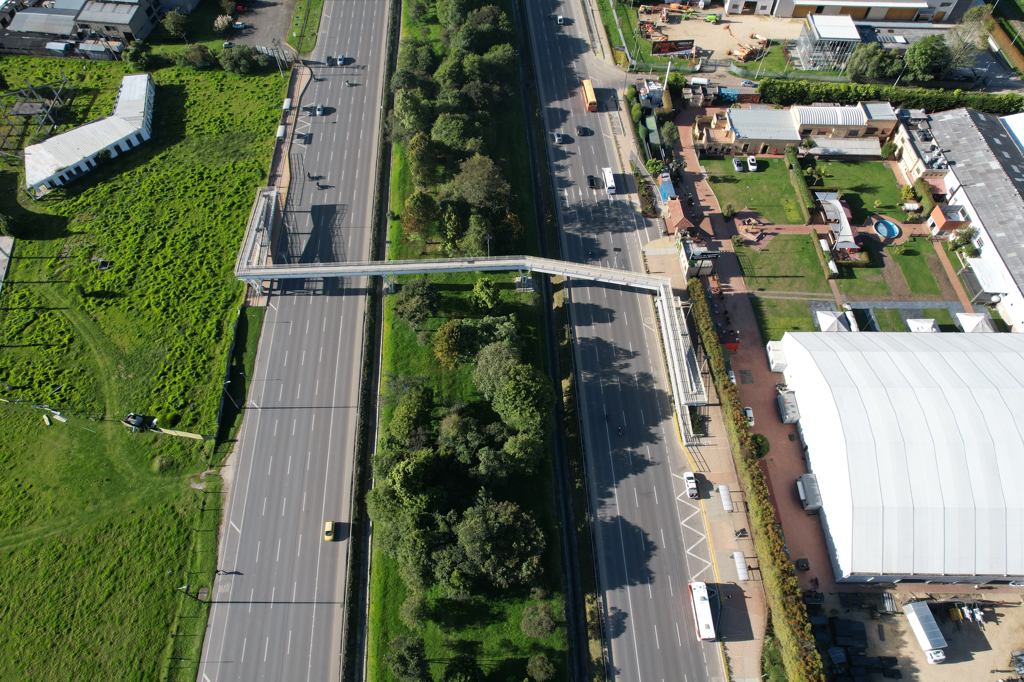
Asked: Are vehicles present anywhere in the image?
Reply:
Yes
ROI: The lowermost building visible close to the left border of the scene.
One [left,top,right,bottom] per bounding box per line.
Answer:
[23,72,155,199]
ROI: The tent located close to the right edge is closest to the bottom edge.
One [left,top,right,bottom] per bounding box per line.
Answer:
[782,331,1024,588]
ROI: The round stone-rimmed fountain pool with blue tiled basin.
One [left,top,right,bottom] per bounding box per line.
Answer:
[872,220,900,242]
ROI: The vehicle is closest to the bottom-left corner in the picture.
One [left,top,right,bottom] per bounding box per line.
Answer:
[323,520,336,543]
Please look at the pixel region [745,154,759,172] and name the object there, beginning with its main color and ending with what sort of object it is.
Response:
white car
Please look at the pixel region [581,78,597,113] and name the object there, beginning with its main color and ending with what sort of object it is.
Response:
yellow vehicle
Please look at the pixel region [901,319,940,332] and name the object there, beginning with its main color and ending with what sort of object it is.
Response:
white tent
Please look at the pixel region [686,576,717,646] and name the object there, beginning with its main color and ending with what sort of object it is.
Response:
white bus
